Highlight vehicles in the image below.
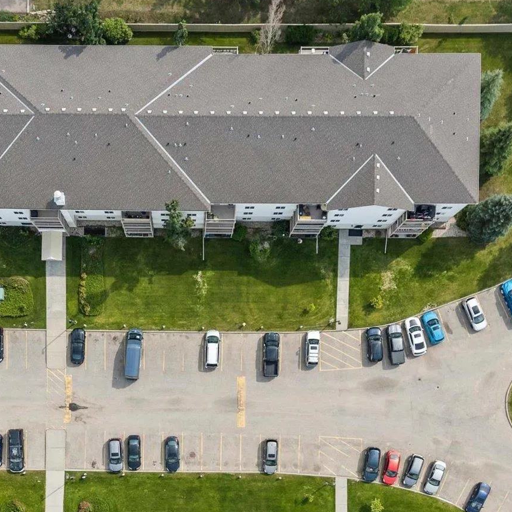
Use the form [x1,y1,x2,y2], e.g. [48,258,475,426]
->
[205,331,222,368]
[304,331,322,368]
[403,318,426,357]
[422,460,445,496]
[499,279,512,313]
[365,327,384,363]
[261,439,279,475]
[361,447,380,482]
[164,437,180,472]
[106,439,123,473]
[69,328,87,364]
[421,311,444,346]
[461,297,487,333]
[262,333,281,377]
[401,453,424,488]
[6,429,24,473]
[385,324,407,366]
[381,448,400,485]
[125,436,142,470]
[125,329,144,380]
[465,481,490,512]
